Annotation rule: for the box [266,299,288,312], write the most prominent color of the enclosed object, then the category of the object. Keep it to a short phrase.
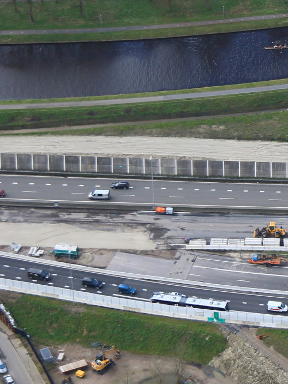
white vehicle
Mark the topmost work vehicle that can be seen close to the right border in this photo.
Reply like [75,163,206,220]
[251,222,285,238]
